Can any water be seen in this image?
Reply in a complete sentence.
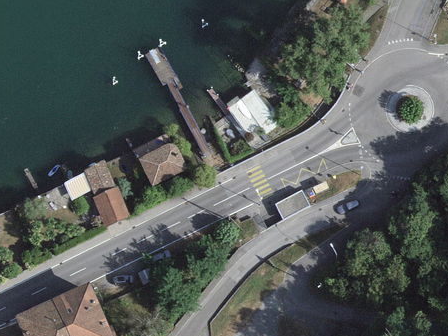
Yes, there's water in this view.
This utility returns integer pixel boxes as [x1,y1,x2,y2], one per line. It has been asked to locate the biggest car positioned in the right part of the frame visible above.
[336,198,360,214]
